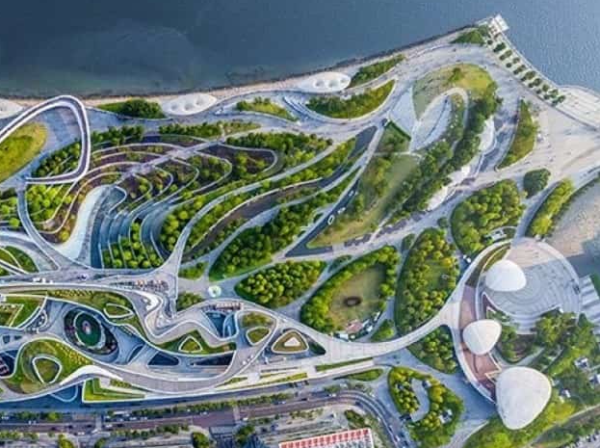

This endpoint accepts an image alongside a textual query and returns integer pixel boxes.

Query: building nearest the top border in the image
[298,71,350,92]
